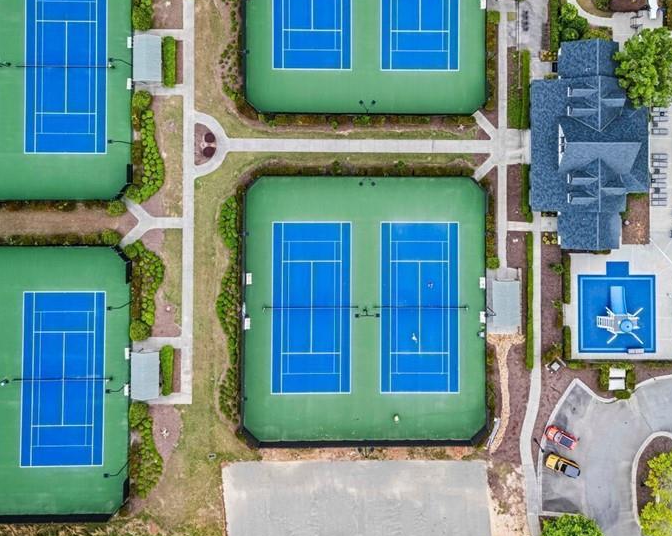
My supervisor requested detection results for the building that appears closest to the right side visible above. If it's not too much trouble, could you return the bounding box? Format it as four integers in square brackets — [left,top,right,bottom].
[529,37,648,251]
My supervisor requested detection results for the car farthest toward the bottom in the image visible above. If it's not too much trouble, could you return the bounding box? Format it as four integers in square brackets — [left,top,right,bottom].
[546,453,581,481]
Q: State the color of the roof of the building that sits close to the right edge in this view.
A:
blue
